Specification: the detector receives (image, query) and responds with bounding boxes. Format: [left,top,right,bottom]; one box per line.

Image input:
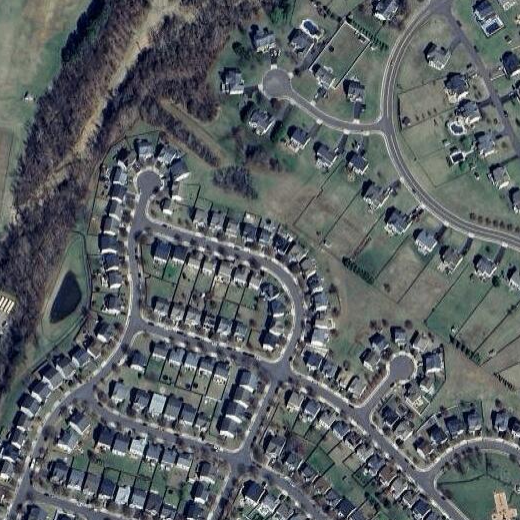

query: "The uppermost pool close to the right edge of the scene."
[482,18,501,35]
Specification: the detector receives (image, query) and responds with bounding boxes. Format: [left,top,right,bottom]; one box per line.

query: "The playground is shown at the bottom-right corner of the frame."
[493,493,517,520]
